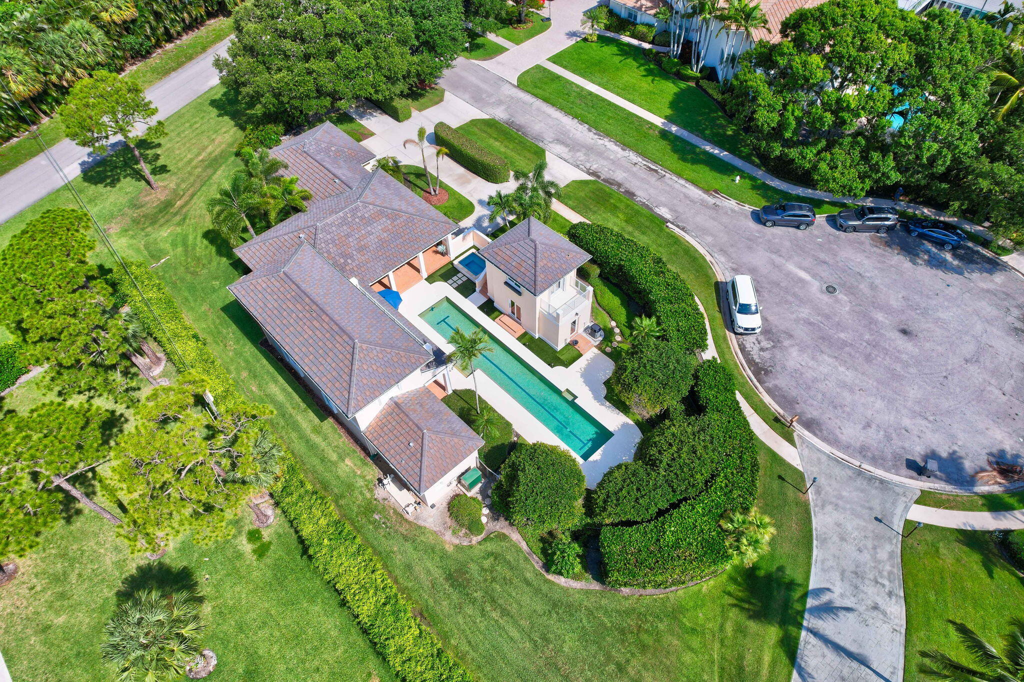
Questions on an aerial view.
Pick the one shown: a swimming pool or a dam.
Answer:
swimming pool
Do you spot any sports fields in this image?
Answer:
No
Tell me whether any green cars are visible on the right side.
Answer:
No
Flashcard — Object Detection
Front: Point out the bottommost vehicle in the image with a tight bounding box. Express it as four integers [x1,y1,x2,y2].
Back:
[726,278,763,338]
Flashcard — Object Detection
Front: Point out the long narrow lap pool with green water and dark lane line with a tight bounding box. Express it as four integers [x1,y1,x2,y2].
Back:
[420,297,613,460]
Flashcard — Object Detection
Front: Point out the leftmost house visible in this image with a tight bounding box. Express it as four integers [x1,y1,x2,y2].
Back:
[226,120,486,508]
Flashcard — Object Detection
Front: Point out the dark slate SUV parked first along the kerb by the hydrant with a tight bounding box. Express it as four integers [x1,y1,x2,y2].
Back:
[758,200,818,229]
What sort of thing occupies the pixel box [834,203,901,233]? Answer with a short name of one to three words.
car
